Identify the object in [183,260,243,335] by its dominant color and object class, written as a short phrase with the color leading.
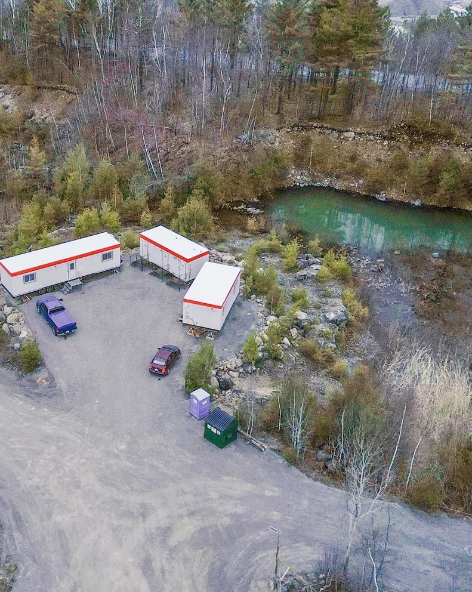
white trailer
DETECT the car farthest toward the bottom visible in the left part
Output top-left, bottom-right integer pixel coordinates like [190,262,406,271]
[149,345,179,380]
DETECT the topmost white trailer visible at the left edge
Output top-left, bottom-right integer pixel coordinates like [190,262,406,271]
[1,231,125,300]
